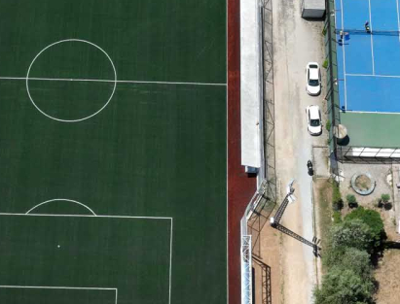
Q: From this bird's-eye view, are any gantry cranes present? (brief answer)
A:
No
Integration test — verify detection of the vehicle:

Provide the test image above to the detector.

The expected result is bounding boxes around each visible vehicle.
[309,159,315,175]
[305,65,321,96]
[307,106,323,137]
